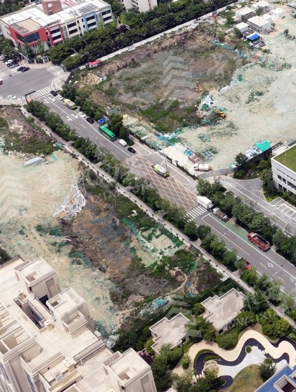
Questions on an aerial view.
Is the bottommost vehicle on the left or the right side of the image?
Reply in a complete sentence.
The bottommost vehicle appears in the right half of the scene.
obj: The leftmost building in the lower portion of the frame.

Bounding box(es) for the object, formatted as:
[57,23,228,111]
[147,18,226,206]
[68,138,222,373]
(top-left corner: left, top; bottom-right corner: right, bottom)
[0,249,101,392]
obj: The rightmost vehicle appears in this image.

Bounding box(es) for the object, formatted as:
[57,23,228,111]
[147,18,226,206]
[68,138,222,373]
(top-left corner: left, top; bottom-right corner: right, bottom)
[247,228,269,247]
